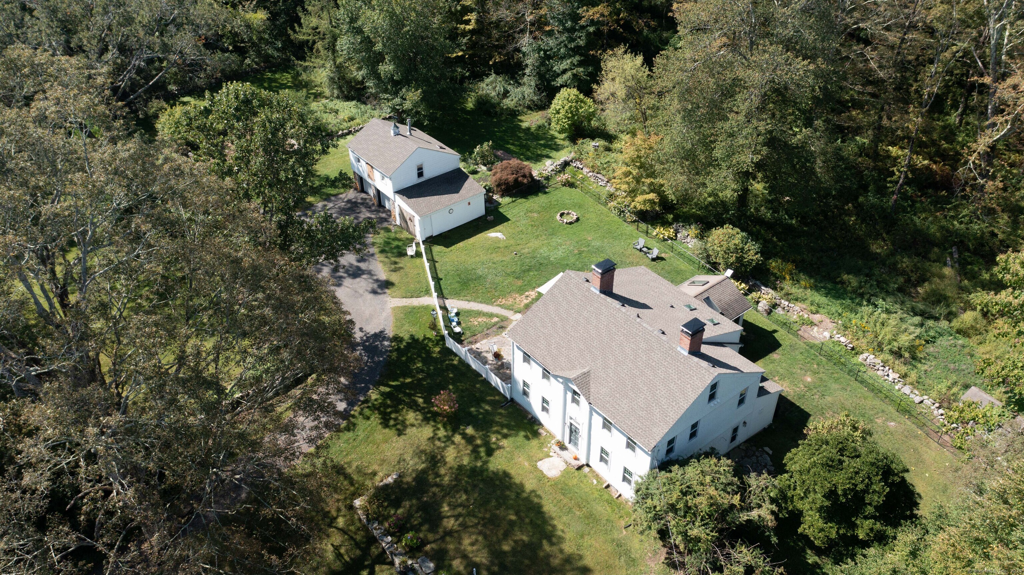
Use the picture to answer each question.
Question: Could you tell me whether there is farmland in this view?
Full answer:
No, there's no farmland in this view.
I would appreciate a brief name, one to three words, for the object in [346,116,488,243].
barn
